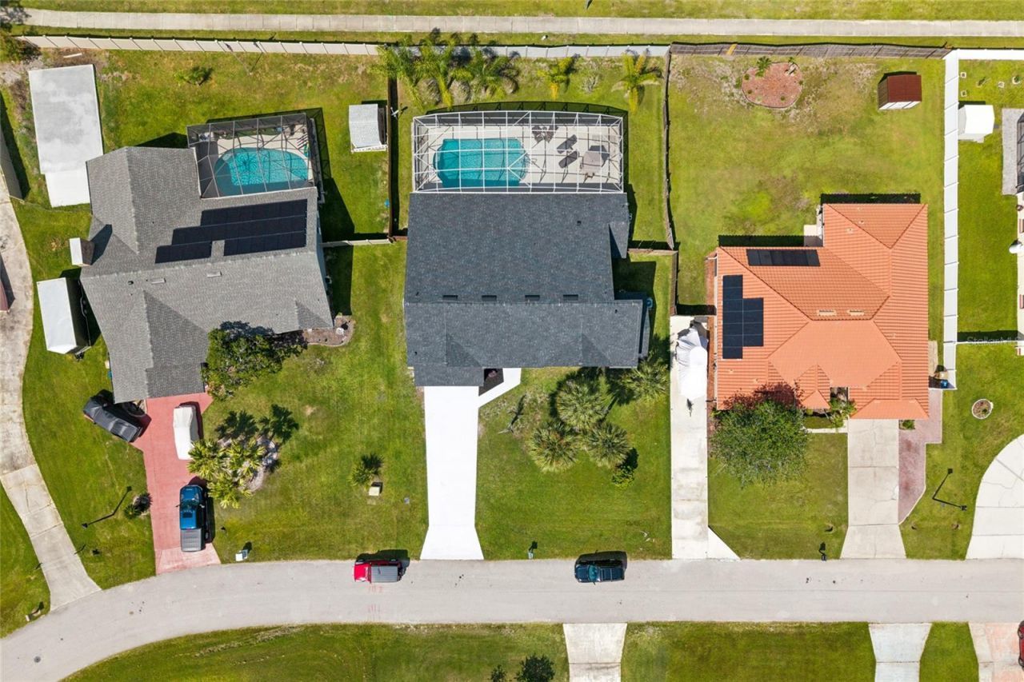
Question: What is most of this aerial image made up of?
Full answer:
The scene is dominated by grass.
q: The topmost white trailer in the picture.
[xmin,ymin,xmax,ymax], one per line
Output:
[40,278,93,363]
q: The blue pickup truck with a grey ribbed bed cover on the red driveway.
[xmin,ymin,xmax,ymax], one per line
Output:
[177,487,206,550]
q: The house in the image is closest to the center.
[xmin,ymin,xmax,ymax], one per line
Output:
[405,192,649,386]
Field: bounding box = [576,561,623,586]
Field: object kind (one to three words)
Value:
car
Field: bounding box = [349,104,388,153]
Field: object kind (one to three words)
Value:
shed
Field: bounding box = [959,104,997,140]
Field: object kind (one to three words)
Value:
shed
